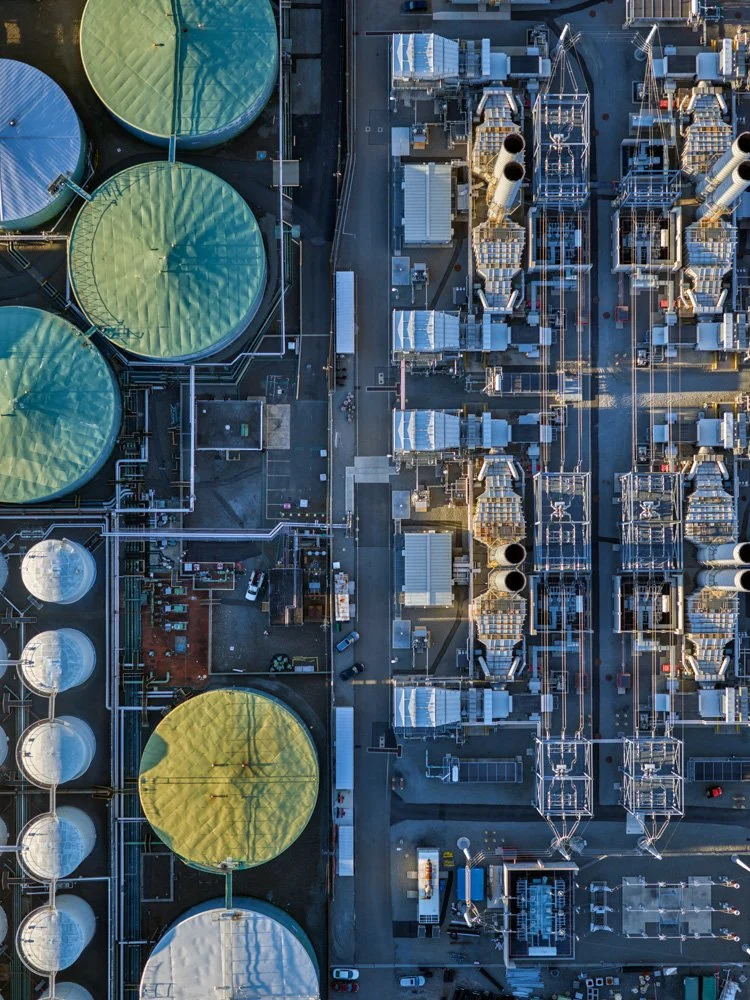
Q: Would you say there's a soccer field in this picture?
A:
No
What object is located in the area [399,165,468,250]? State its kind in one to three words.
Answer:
building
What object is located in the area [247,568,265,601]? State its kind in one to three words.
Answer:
vehicle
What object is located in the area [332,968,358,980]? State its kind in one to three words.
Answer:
vehicle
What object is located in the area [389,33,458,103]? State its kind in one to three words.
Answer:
house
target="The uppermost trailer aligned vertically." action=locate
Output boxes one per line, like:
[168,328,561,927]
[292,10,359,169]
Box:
[335,271,354,356]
